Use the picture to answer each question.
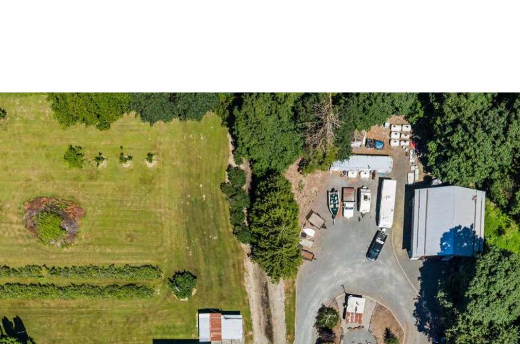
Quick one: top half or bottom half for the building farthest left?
bottom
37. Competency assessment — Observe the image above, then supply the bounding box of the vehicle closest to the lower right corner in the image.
[368,228,389,260]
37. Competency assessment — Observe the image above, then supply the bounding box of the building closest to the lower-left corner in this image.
[199,313,242,341]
